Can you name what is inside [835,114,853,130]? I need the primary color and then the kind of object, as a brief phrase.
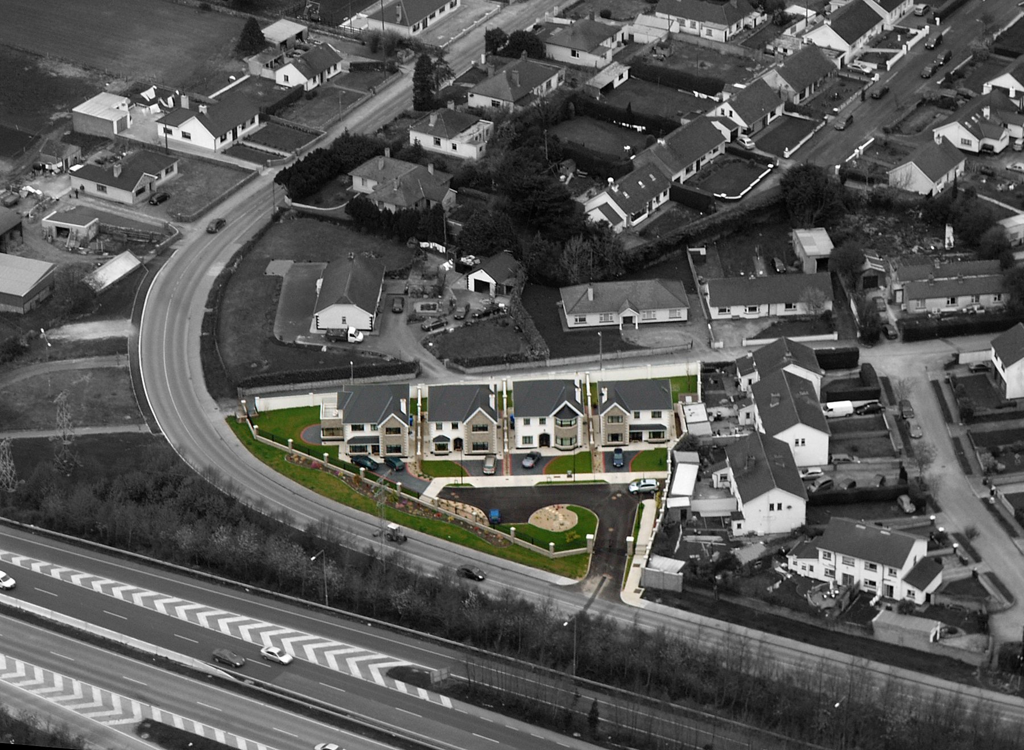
gray car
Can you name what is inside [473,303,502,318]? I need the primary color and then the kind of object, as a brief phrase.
black car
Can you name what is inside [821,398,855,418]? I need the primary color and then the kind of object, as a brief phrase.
white vehicle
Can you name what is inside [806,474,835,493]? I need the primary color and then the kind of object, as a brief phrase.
gray car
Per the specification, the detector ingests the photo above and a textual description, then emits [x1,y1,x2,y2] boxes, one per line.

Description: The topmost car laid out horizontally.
[847,62,873,75]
